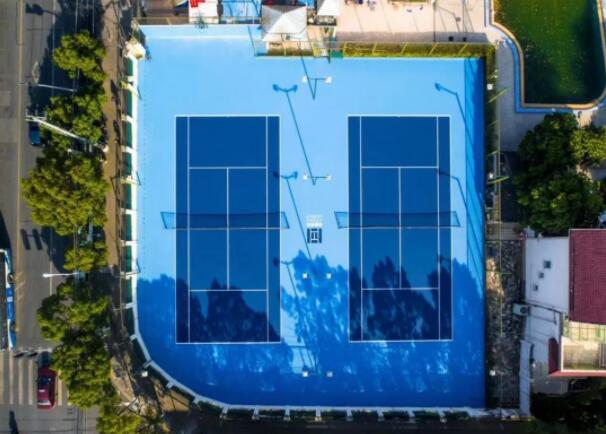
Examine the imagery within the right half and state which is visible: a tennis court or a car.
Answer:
tennis court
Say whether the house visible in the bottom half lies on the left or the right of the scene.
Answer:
right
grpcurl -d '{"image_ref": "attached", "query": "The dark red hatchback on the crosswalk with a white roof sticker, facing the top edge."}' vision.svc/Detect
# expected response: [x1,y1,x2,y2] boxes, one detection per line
[35,367,60,411]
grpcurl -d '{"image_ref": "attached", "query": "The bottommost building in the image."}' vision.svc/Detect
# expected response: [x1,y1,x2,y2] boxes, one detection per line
[522,229,606,374]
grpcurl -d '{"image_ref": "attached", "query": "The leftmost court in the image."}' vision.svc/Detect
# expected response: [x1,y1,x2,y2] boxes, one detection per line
[175,115,281,344]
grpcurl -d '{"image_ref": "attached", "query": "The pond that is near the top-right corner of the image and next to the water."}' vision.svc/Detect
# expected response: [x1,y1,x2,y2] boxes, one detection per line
[485,0,606,112]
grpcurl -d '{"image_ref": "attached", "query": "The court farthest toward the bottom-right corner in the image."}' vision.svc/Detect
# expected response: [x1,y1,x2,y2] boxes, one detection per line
[348,115,453,342]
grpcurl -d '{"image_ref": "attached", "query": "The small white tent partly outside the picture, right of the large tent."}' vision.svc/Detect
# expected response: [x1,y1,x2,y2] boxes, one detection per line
[320,0,344,28]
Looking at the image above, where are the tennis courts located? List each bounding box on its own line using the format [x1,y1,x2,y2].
[348,115,453,342]
[175,115,281,344]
